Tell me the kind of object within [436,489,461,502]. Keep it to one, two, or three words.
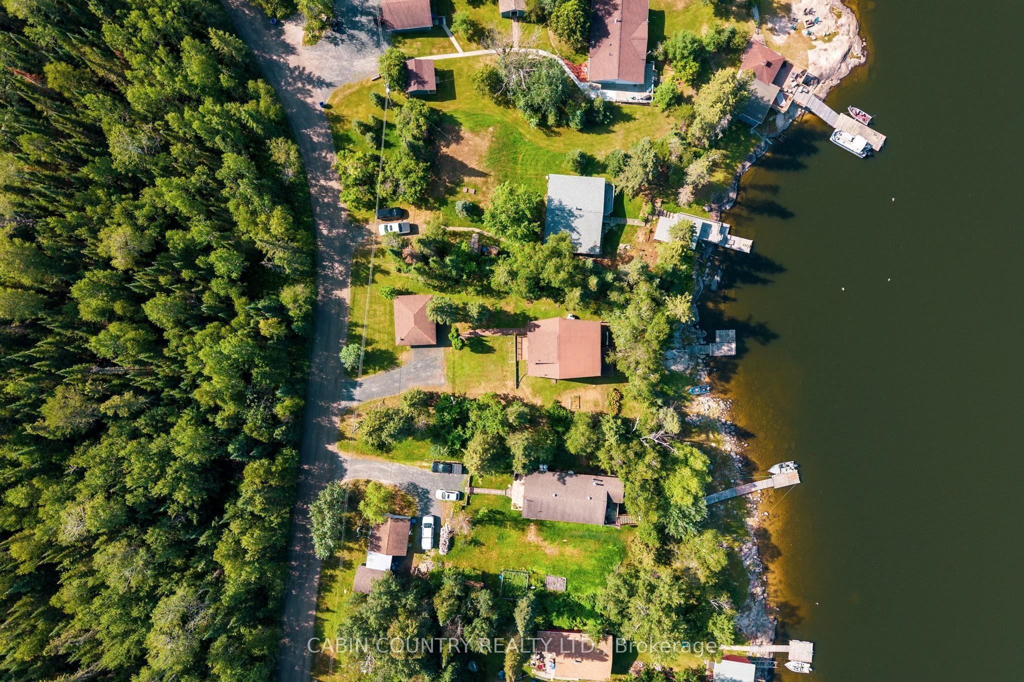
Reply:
vehicle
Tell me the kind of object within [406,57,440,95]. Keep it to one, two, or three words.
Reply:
shed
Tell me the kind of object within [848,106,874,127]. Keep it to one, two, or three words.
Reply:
boat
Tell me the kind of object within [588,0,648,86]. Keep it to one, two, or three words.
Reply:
house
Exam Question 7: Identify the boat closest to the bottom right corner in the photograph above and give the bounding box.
[783,661,816,674]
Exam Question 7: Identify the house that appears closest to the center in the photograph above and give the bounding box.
[527,321,602,376]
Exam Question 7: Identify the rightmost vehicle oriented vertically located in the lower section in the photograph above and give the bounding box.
[421,515,436,551]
